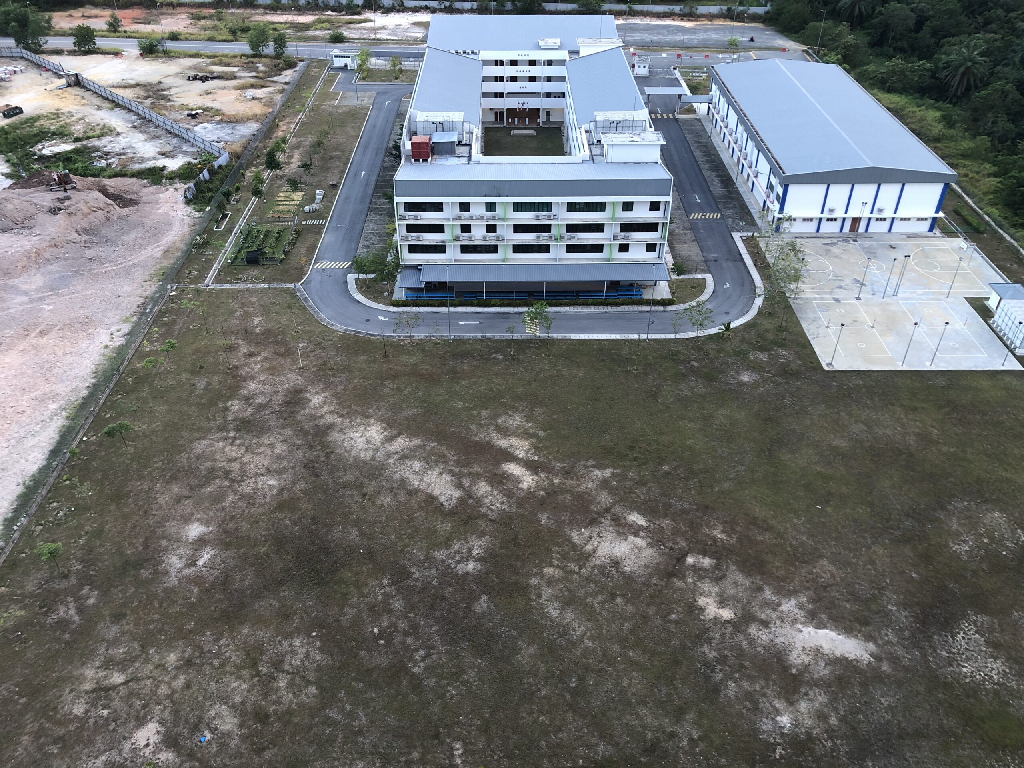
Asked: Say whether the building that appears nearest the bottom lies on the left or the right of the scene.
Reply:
right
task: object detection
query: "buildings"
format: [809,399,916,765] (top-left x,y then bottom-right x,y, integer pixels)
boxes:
[977,283,1024,313]
[392,14,674,299]
[60,70,83,86]
[330,49,363,68]
[707,58,960,232]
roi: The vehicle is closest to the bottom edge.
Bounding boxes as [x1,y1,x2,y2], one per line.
[50,165,79,190]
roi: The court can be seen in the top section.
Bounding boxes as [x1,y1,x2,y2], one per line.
[760,238,1024,370]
